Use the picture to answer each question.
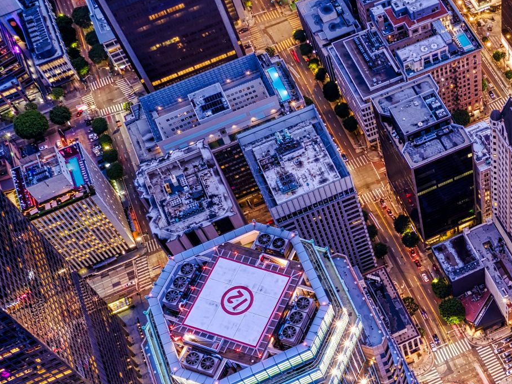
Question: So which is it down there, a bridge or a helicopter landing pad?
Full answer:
I can see a helicopter landing pad in this picture.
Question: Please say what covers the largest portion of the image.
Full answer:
The largest share of the image is taken up by buildings.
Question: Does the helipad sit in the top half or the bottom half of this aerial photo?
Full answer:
The helipad sits in the bottom half of the picture.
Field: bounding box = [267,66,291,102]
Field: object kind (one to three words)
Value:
swimming pool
